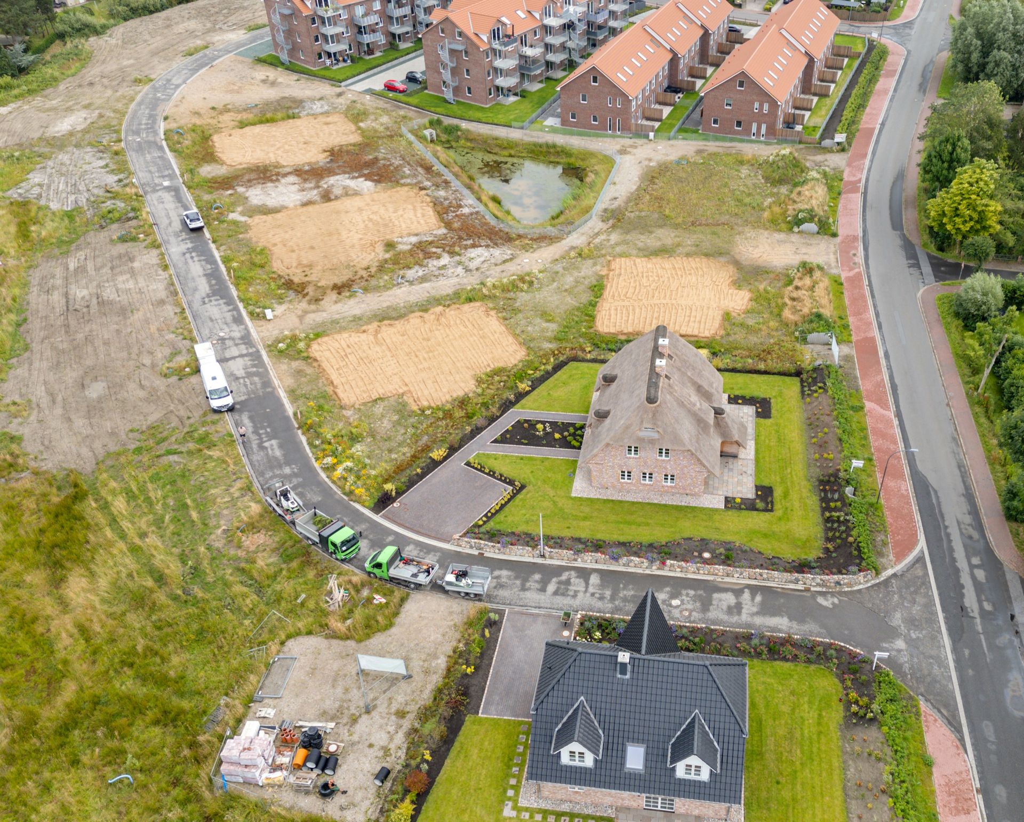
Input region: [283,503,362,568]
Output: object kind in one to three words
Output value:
truck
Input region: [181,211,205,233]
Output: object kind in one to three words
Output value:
car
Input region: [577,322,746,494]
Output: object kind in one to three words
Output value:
house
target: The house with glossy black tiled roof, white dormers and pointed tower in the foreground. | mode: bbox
[526,586,746,822]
